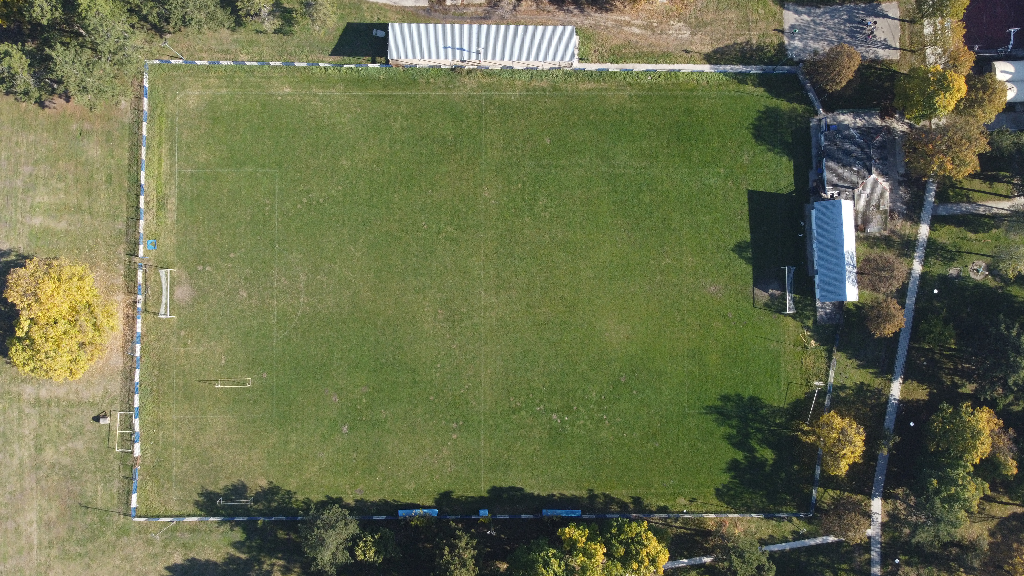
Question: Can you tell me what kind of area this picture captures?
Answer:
sports ground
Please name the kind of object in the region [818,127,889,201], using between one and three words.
building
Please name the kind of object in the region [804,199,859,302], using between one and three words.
building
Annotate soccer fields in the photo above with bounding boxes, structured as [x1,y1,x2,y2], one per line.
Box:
[136,64,839,518]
